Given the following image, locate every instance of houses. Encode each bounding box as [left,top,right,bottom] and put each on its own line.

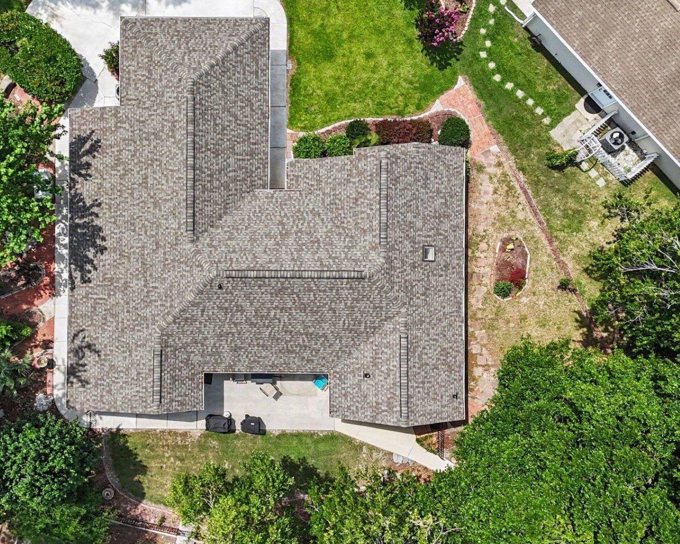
[66,17,465,428]
[513,0,680,186]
